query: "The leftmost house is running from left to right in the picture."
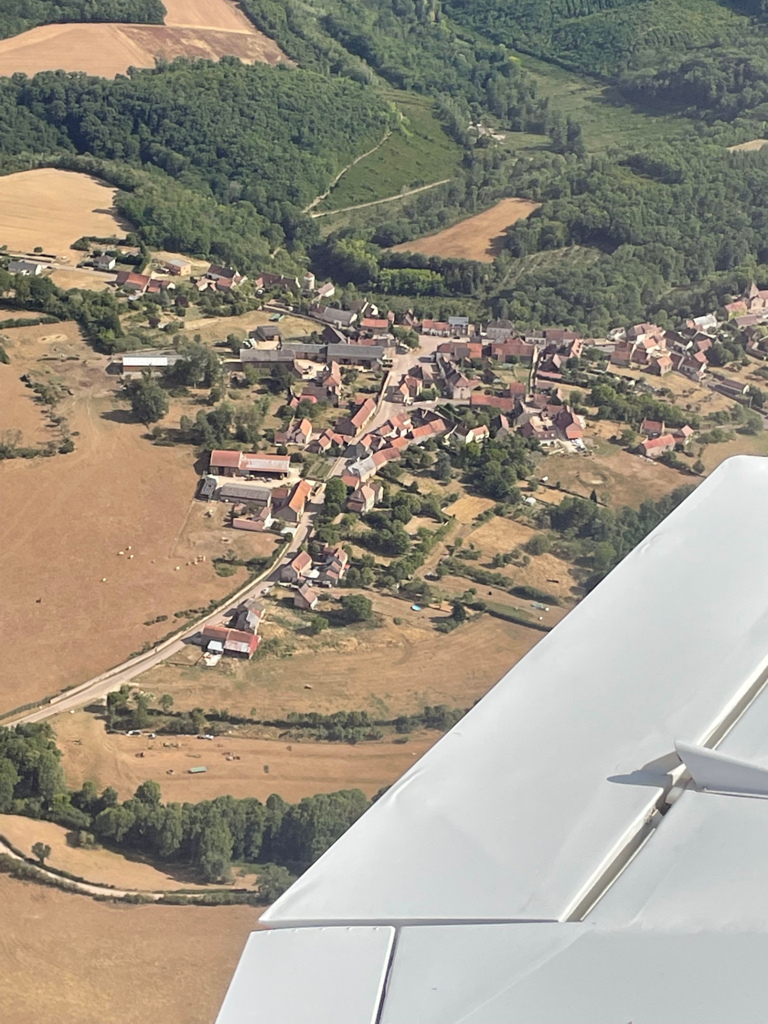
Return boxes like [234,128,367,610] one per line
[7,262,41,275]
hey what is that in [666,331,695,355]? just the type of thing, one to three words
house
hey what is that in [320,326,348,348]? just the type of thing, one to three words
barn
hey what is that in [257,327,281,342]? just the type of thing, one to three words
barn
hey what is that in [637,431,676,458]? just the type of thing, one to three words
house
